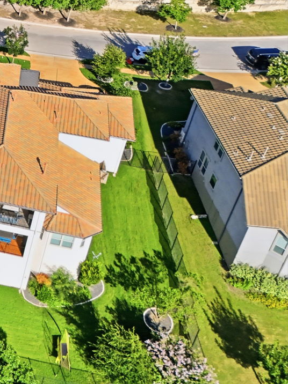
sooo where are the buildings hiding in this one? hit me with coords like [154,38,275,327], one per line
[0,57,135,285]
[184,82,288,277]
